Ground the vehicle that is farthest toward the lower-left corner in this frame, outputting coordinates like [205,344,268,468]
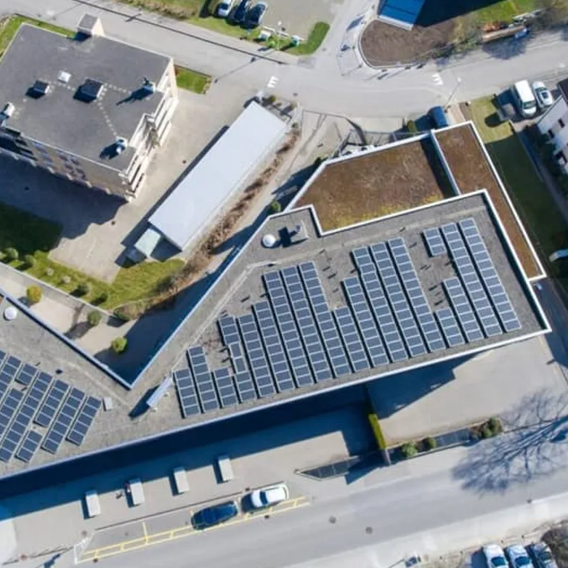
[194,503,235,527]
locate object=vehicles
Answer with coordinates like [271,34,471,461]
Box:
[531,81,553,110]
[529,539,556,568]
[194,503,235,527]
[250,0,271,28]
[234,0,254,25]
[506,543,531,568]
[247,485,287,509]
[483,546,508,568]
[428,104,447,132]
[511,78,537,116]
[217,0,236,19]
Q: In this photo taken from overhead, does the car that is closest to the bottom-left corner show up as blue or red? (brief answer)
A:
blue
